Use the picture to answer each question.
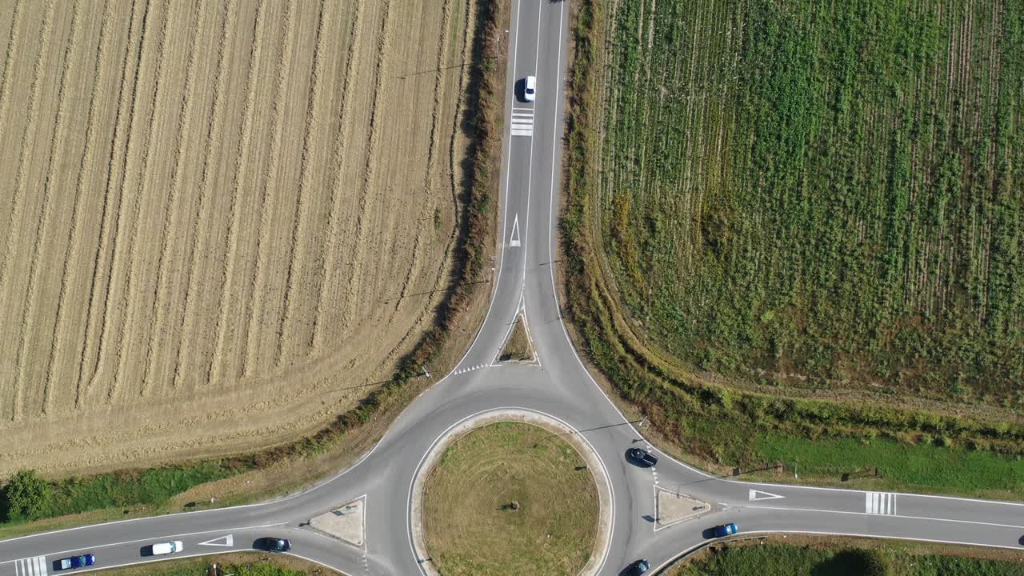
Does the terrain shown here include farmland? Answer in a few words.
Yes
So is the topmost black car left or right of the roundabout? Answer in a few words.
on its right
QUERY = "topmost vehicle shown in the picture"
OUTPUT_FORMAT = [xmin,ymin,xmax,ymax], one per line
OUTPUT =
[523,76,536,101]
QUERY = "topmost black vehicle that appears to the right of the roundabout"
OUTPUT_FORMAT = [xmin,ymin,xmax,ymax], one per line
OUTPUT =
[629,445,658,466]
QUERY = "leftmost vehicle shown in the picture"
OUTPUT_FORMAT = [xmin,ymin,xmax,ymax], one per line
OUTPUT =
[61,554,96,569]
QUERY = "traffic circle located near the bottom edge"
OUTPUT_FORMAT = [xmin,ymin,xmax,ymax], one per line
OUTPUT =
[406,407,617,576]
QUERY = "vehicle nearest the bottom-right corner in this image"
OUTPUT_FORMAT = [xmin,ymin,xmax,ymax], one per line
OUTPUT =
[713,522,738,537]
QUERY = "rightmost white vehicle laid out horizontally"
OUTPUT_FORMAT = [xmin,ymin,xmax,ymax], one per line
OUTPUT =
[152,540,184,555]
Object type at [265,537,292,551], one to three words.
car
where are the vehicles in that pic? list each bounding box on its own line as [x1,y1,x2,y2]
[523,76,536,101]
[152,540,184,555]
[629,445,658,466]
[61,554,96,569]
[623,559,649,576]
[265,537,292,551]
[713,522,738,537]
